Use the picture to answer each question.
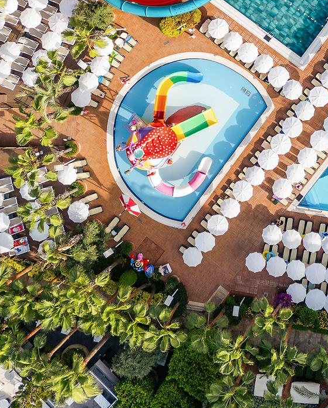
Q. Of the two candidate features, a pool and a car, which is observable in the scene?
pool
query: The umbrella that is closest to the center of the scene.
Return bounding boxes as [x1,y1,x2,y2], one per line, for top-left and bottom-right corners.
[119,194,141,216]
